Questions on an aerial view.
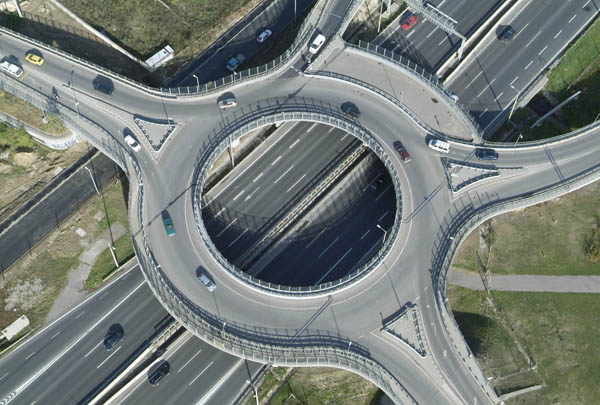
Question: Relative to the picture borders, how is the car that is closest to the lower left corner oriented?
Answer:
on a diagonal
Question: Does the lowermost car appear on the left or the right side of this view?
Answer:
left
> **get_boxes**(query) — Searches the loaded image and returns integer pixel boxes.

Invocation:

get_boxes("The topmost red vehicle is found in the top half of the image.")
[400,15,419,31]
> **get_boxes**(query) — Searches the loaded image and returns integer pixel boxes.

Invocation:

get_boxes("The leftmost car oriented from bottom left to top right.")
[101,324,125,348]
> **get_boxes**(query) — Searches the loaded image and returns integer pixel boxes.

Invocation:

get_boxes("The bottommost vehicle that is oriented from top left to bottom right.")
[197,269,217,292]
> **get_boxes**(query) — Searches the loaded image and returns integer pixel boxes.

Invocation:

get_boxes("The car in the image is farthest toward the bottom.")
[148,360,172,384]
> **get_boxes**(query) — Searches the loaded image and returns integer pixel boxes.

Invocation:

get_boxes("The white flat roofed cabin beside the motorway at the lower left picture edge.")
[0,315,31,344]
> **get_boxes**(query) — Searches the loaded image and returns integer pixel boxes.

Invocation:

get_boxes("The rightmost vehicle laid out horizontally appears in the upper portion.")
[475,148,499,160]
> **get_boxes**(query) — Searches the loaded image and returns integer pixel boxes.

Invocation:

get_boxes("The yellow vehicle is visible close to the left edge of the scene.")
[23,53,46,67]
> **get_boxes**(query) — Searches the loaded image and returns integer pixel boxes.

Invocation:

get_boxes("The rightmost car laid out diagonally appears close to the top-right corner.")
[496,25,517,42]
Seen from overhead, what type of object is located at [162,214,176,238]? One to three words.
car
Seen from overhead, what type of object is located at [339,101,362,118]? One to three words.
car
